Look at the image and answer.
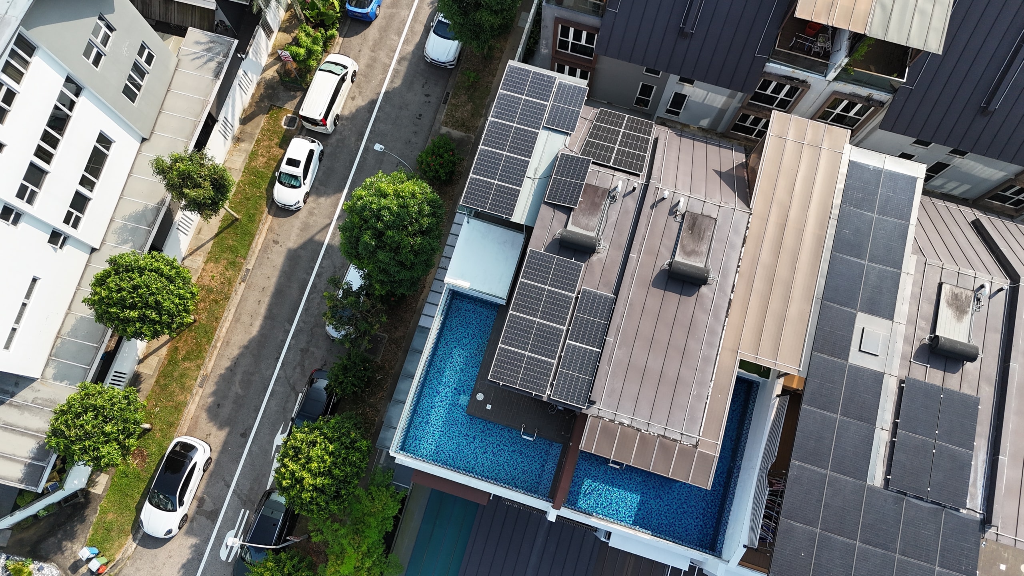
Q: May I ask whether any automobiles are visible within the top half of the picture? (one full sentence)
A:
Yes, an automobile is visible within the top half of the picture.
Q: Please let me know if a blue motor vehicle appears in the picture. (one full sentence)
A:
Yes, a blue motor vehicle can be made out from above.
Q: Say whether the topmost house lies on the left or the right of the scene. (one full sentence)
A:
You can find the topmost house on the left side of the picture.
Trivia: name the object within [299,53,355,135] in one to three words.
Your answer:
car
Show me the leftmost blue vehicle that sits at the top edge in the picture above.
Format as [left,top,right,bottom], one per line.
[345,0,384,28]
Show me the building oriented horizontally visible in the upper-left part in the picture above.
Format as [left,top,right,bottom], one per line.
[130,0,243,59]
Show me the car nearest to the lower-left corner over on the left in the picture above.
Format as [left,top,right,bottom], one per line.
[143,436,211,539]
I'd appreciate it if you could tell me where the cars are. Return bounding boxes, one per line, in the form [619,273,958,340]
[237,483,296,576]
[425,28,463,72]
[294,369,344,423]
[143,436,211,539]
[272,132,325,211]
[345,0,384,28]
[299,53,355,135]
